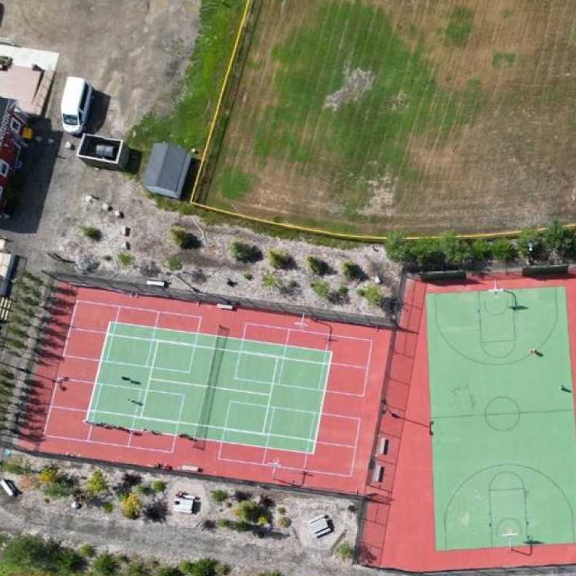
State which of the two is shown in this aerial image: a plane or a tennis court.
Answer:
tennis court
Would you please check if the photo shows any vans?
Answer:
Yes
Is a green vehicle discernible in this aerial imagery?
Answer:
No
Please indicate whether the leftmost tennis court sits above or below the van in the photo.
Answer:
below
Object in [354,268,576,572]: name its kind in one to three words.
basketball court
